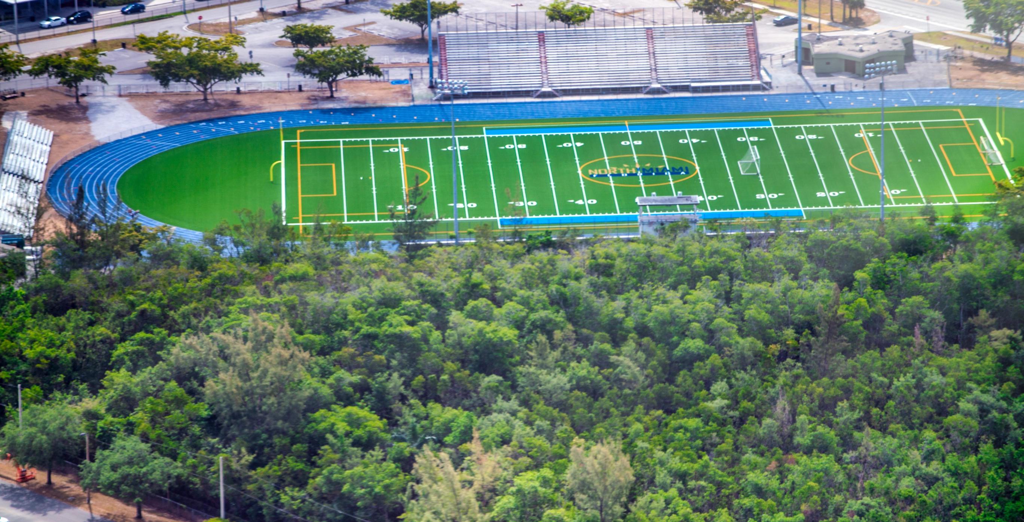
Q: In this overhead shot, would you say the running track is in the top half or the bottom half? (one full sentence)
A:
The running track sits in the top half of the picture.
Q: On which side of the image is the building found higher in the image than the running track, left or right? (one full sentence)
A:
You can find the building found higher in the image than the running track on the right side of the picture.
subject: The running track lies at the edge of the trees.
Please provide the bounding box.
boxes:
[42,89,1024,260]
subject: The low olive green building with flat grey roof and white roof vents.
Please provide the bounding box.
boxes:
[796,30,912,76]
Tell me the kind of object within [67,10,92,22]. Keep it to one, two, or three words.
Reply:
vehicle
